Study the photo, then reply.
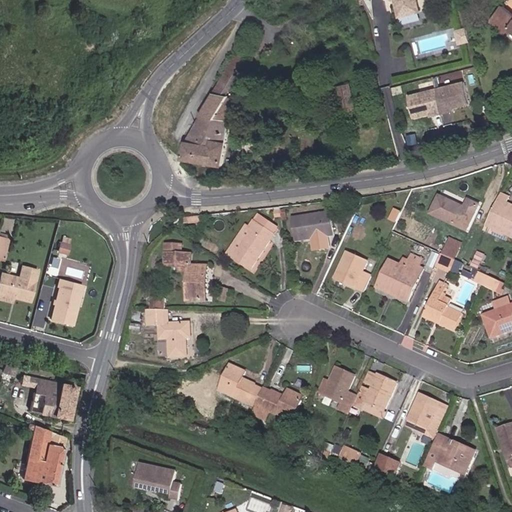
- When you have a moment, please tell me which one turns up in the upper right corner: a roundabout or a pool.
pool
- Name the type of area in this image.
residential area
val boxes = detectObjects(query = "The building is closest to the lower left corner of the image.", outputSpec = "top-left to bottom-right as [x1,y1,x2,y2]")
[25,426,68,485]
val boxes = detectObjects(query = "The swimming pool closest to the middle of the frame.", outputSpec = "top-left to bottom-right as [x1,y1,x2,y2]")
[296,362,314,375]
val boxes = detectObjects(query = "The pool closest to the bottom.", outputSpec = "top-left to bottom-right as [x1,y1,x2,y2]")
[425,469,462,494]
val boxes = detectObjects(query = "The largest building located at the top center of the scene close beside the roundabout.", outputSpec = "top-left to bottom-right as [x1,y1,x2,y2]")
[178,92,233,168]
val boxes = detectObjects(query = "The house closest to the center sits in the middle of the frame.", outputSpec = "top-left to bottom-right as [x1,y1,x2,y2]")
[229,214,280,272]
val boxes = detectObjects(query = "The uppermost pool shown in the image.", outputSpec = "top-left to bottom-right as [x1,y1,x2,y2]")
[412,30,458,58]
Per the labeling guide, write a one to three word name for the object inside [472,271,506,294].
shed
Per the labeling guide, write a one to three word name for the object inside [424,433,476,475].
house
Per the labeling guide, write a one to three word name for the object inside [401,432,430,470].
swimming pool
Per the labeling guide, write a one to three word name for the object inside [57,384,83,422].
house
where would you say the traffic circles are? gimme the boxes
[72,126,172,229]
